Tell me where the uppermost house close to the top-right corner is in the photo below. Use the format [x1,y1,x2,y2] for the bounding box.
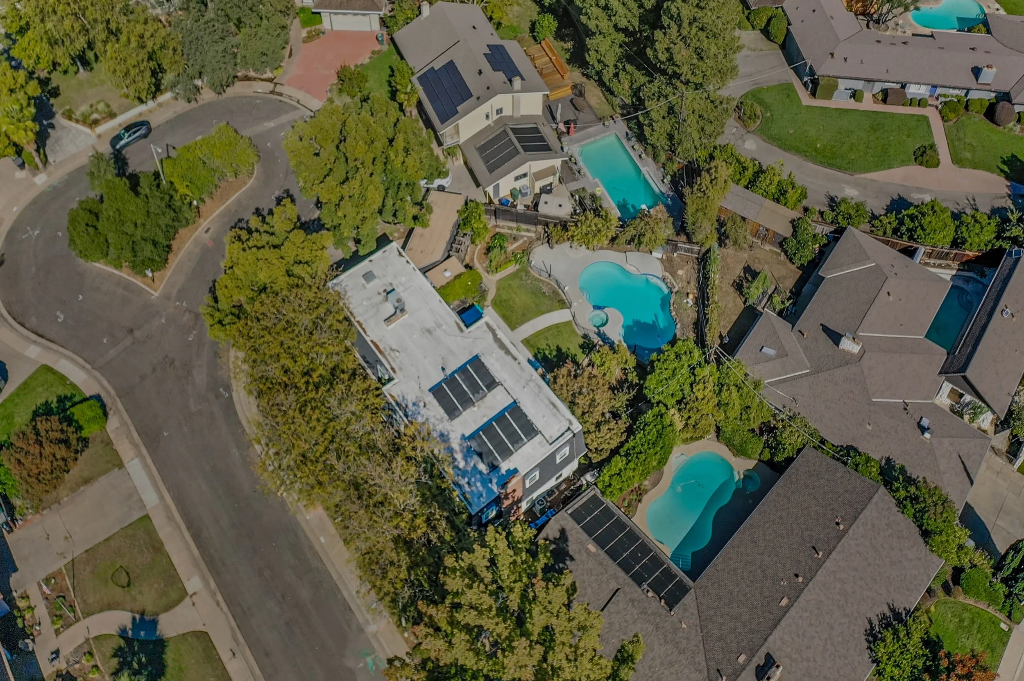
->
[777,0,1024,120]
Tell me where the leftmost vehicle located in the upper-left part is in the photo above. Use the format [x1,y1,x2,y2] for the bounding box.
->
[107,121,155,152]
